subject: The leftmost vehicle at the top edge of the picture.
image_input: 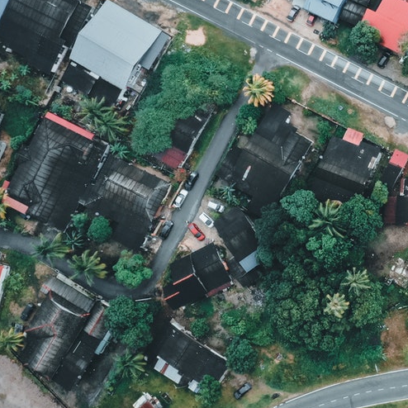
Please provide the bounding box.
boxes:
[285,6,301,25]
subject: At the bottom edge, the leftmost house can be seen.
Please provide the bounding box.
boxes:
[24,278,112,391]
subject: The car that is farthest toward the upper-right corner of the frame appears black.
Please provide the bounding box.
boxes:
[378,51,391,69]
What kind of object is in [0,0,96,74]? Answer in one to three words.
house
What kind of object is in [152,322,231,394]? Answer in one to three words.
house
